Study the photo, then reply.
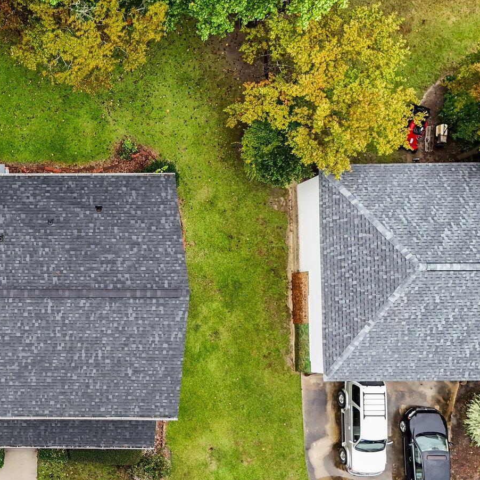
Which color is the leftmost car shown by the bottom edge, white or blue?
white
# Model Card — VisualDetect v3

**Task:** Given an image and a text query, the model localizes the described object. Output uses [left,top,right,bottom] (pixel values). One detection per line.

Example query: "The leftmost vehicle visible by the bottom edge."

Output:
[340,380,396,476]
